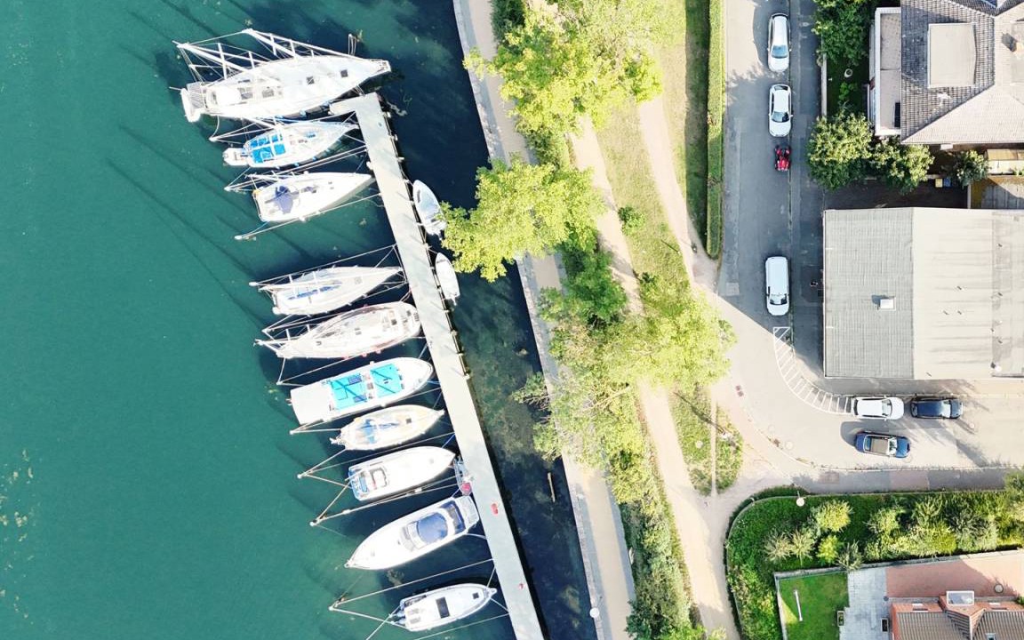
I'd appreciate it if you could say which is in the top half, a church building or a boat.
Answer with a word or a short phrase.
boat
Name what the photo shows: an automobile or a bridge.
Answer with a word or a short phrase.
automobile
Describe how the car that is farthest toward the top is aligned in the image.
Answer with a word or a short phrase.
from top to bottom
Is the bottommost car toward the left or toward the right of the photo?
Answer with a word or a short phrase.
right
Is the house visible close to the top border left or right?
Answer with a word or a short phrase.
right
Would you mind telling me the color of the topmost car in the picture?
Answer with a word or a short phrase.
white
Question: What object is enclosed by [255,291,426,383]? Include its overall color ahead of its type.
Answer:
white boat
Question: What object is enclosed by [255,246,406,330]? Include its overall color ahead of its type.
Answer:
white boat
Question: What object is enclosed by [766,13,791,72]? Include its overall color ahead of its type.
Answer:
white car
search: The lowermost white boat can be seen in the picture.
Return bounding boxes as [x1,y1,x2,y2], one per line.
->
[330,565,508,636]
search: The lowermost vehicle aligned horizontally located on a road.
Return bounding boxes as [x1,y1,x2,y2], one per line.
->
[855,434,911,461]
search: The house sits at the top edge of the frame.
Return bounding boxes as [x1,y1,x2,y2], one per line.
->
[871,0,1024,153]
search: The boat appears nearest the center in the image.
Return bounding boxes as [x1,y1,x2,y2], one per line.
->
[435,251,461,303]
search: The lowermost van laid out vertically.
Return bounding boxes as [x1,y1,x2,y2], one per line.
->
[764,257,792,316]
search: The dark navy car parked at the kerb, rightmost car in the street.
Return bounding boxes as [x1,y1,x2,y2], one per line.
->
[911,397,964,423]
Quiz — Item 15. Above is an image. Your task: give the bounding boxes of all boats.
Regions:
[255,291,426,383]
[296,394,452,476]
[330,565,508,636]
[167,28,392,136]
[300,435,455,524]
[226,153,380,238]
[319,488,485,597]
[435,251,461,303]
[280,347,440,432]
[211,111,364,187]
[413,180,446,237]
[455,457,472,495]
[255,246,406,330]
